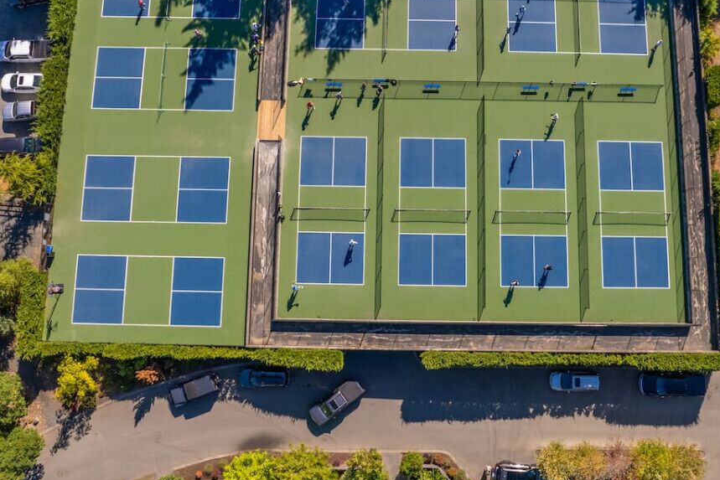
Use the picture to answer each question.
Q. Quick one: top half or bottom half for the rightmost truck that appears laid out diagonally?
bottom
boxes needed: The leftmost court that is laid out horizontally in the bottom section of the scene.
[71,255,225,325]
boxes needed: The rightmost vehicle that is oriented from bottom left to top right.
[305,377,369,428]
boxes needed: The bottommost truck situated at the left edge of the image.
[0,134,54,159]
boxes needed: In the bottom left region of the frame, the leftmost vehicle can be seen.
[165,372,222,410]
